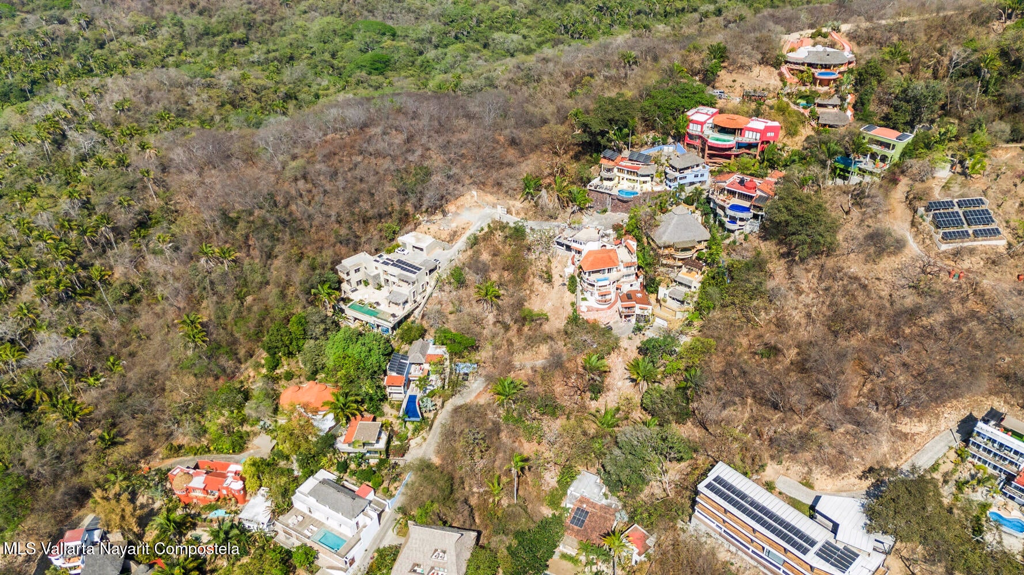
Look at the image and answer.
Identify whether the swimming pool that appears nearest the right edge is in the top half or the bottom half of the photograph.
bottom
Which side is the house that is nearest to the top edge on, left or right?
right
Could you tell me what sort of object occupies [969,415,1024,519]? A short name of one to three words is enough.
building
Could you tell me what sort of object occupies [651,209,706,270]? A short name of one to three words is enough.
house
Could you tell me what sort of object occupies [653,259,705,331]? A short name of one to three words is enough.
house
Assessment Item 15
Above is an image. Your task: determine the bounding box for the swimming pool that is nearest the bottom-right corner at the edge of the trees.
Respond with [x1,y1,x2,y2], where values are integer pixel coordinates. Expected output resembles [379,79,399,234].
[987,505,1024,539]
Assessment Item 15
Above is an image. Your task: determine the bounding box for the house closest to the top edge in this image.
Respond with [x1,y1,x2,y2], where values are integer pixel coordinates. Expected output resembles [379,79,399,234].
[784,37,857,87]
